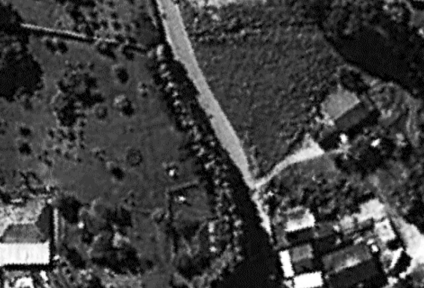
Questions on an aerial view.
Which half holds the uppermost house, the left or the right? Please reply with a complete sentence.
You can find the uppermost house on the right side of the picture.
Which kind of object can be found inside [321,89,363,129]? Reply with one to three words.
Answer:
house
